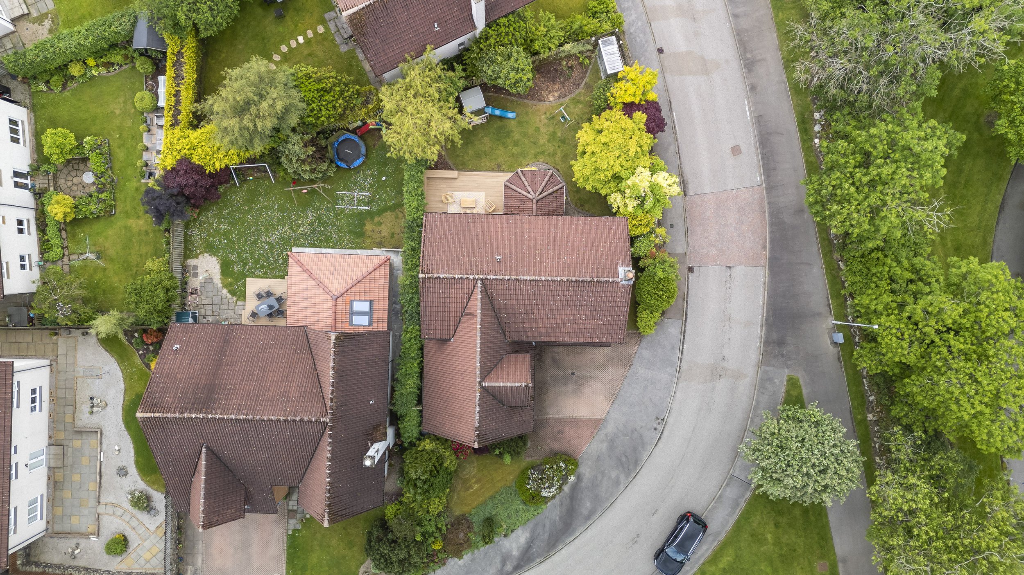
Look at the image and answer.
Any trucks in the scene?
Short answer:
No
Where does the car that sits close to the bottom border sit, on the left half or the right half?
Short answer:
right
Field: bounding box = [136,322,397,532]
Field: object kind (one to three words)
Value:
house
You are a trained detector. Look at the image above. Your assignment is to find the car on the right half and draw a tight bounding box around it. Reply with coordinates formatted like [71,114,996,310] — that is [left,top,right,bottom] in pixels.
[657,510,709,575]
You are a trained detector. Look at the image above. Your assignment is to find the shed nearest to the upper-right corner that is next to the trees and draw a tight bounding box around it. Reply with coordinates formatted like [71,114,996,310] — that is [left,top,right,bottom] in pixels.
[591,39,623,86]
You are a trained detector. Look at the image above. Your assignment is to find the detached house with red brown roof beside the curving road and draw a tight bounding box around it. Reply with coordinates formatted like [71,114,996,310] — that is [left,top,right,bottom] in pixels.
[416,168,634,447]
